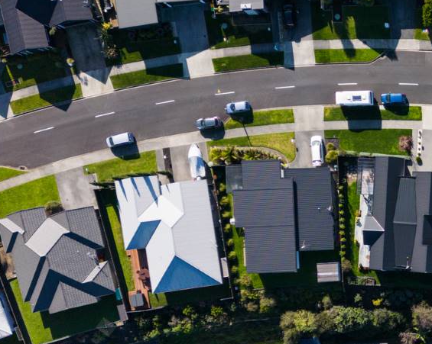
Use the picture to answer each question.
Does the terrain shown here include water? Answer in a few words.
No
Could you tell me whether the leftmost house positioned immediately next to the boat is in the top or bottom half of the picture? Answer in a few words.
bottom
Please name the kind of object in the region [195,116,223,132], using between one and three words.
car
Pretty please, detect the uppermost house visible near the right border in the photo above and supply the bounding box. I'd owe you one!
[362,157,432,275]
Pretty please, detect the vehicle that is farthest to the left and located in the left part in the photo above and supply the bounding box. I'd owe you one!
[108,134,135,148]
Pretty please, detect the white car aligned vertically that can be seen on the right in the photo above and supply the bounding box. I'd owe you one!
[310,136,324,165]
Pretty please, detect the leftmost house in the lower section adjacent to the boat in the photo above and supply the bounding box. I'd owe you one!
[114,176,224,294]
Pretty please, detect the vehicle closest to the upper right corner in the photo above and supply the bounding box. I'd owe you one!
[379,91,407,106]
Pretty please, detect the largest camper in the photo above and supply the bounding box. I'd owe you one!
[336,90,375,107]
